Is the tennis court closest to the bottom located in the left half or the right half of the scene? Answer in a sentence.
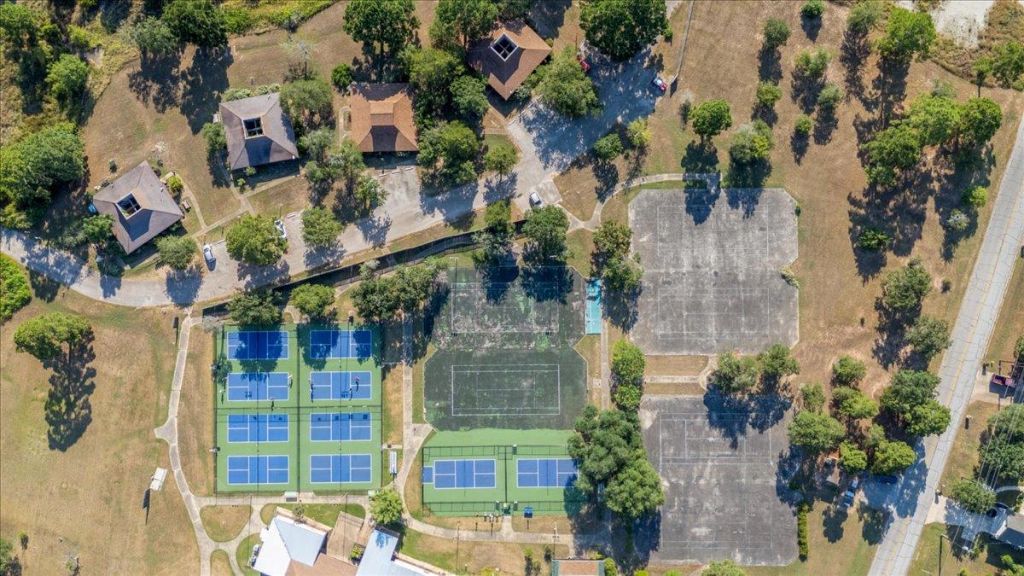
The tennis court closest to the bottom sits on the right side.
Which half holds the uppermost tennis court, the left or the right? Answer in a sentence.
The uppermost tennis court sits on the right side.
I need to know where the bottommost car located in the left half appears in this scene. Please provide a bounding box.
[201,244,215,266]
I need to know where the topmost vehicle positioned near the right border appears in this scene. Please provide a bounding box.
[992,374,1019,388]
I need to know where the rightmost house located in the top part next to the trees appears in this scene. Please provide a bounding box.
[457,10,552,100]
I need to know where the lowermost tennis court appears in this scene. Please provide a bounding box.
[643,481,798,566]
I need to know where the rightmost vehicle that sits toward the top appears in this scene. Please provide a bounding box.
[650,74,670,92]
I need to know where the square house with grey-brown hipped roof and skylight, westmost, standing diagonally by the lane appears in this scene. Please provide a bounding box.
[93,161,185,254]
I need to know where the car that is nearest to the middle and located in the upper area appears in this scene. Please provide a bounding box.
[528,189,544,209]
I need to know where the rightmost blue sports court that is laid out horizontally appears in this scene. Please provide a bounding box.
[517,459,579,488]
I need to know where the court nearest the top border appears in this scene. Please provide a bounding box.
[629,188,799,266]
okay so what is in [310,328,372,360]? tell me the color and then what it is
blue sports court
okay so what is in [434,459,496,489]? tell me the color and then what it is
blue sports court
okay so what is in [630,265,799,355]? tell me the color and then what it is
gray tennis court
